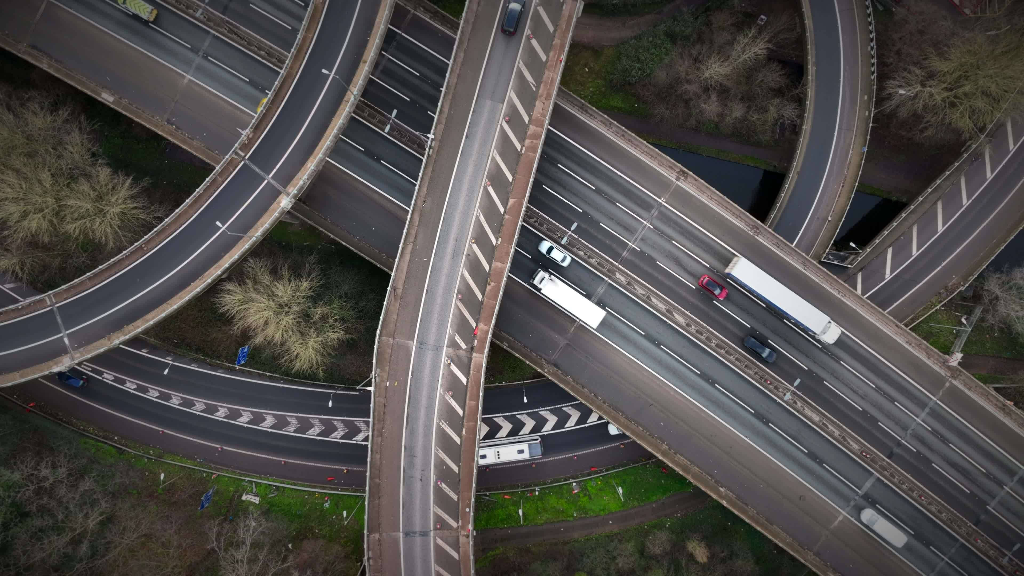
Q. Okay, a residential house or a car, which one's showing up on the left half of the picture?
car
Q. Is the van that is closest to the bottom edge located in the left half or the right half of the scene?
right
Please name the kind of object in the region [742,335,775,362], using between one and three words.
car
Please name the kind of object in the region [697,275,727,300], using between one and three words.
car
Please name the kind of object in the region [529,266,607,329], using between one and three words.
truck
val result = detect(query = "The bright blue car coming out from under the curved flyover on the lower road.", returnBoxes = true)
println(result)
[56,369,87,389]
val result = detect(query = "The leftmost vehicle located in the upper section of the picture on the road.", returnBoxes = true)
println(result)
[106,0,158,24]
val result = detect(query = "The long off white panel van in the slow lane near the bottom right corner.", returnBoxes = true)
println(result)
[860,507,913,551]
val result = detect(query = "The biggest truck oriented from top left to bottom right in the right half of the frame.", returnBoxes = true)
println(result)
[724,256,839,347]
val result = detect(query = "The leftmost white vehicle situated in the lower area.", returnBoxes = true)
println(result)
[477,437,542,467]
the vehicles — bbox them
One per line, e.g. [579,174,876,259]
[607,422,623,435]
[537,240,571,267]
[724,256,839,347]
[477,437,542,467]
[56,369,87,389]
[256,99,264,111]
[529,266,607,329]
[106,0,158,24]
[697,275,727,300]
[742,335,775,362]
[860,507,913,551]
